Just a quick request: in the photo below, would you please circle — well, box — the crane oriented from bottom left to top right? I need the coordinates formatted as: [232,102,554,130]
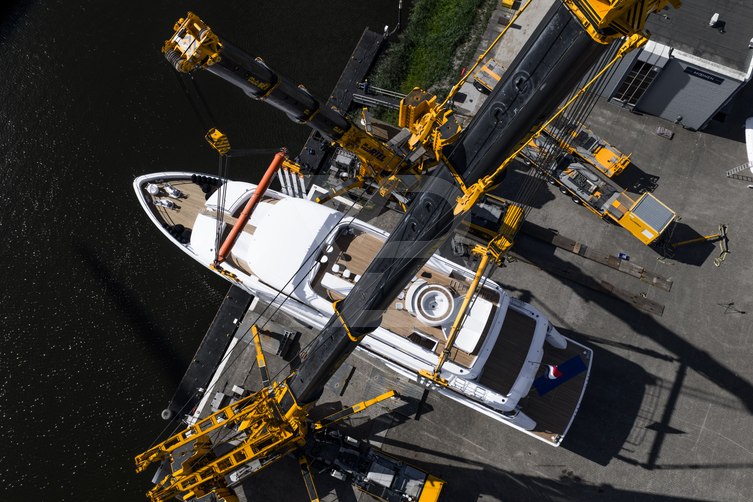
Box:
[125,0,683,502]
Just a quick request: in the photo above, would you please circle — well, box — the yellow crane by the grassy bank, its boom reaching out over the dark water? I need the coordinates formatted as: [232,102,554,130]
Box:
[159,1,507,254]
